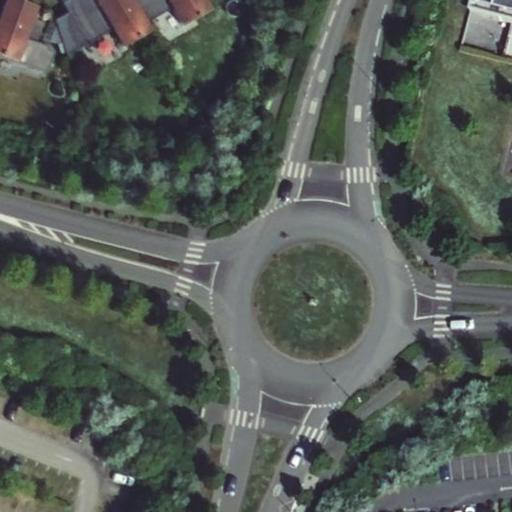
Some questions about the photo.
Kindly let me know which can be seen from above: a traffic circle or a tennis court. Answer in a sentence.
The image shows a traffic circle.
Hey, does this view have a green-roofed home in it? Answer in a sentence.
No, there isn't any green-roofed home down there.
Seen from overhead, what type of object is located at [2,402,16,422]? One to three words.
vehicle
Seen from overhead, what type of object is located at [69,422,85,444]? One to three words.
car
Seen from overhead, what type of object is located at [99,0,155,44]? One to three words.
house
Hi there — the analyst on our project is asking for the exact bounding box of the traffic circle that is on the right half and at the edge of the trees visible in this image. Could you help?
[218,205,410,397]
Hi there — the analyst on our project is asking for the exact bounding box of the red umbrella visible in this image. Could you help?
[98,40,112,53]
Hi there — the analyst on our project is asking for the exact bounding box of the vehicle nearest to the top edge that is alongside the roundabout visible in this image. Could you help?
[279,179,292,200]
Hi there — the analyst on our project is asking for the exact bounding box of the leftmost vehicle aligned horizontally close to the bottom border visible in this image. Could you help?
[112,473,136,486]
